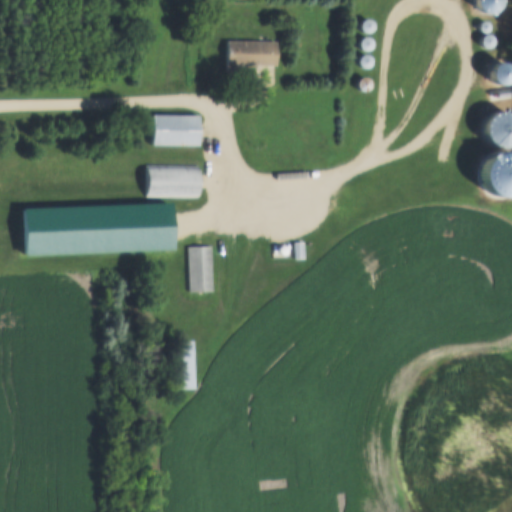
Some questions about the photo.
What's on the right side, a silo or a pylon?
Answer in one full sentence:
You can see a silo on the right side.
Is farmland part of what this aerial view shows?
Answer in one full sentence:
Yes, farmland shows up in the scene.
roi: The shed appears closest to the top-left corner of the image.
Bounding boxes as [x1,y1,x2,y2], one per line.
[152,115,203,147]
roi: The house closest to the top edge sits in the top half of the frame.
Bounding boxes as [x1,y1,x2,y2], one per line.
[228,41,282,66]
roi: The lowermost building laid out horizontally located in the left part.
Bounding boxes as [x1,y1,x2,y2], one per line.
[22,203,178,256]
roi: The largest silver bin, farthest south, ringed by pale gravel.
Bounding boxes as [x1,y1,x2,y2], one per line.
[481,154,512,198]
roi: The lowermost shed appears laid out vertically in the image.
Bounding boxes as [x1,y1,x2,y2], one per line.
[180,340,198,391]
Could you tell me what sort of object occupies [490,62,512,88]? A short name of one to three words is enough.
silo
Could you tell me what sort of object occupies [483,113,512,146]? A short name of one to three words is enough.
silo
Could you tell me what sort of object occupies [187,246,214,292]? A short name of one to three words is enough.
shed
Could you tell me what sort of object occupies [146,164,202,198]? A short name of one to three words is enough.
shed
